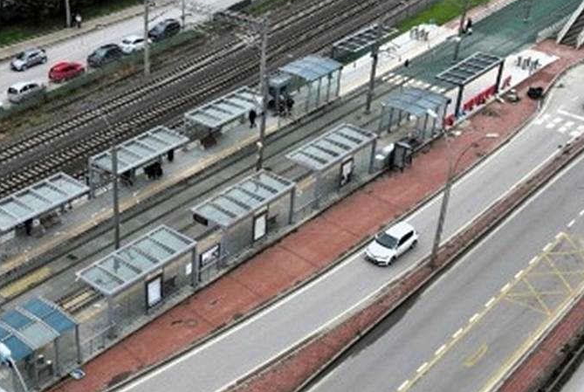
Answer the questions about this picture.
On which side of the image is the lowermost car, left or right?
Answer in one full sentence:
The lowermost car is on the right side of the image.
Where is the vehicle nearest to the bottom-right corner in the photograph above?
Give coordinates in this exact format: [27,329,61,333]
[363,217,420,261]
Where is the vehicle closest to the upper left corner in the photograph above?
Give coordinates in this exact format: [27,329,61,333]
[5,42,50,68]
